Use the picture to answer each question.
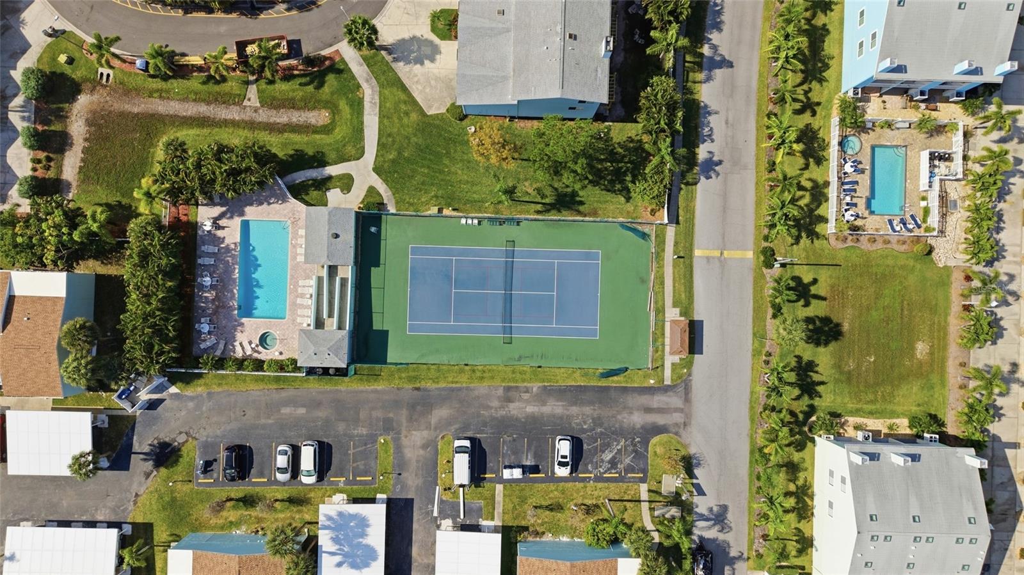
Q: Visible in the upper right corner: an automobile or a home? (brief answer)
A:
home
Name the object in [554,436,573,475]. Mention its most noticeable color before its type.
white car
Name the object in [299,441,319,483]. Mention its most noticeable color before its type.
white car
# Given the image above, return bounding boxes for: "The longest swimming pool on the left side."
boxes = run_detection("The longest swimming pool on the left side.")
[236,219,292,321]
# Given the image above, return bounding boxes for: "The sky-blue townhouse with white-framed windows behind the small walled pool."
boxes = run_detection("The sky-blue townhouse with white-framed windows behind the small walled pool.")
[841,0,1021,107]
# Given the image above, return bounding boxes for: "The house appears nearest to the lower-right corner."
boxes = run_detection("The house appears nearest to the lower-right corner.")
[813,428,992,575]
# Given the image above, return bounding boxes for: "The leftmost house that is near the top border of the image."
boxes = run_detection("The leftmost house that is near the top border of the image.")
[457,0,619,119]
